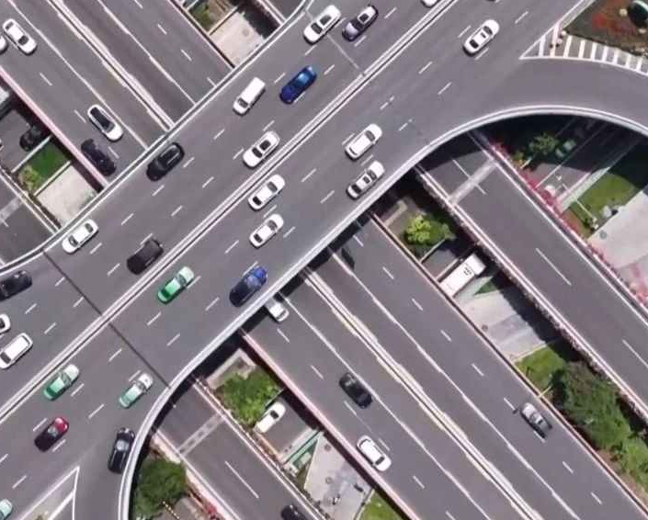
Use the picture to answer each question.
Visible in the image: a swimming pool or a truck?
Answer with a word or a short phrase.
truck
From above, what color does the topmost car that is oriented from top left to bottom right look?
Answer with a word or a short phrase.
white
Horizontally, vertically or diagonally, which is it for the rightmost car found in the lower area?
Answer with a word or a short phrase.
diagonally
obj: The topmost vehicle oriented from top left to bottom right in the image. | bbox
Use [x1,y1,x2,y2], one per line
[0,16,40,57]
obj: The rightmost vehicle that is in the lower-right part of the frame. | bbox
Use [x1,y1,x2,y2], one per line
[516,398,555,441]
